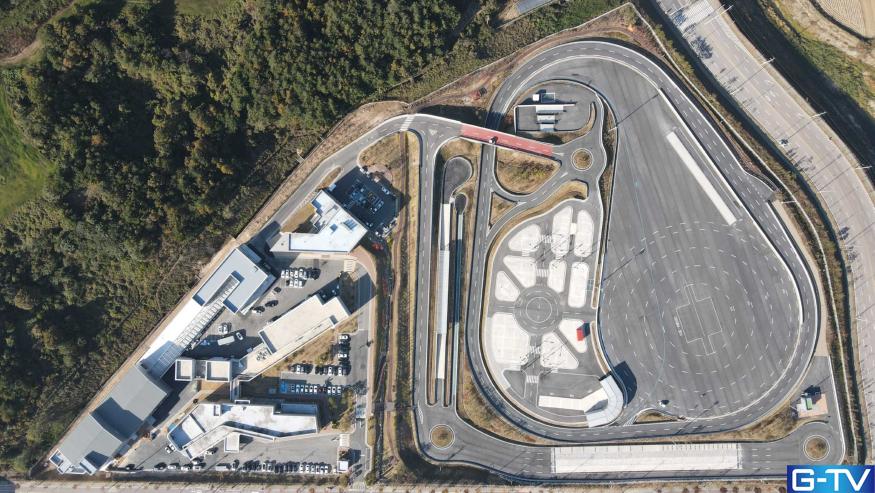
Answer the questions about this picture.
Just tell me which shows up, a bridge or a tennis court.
bridge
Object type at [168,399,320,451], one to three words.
building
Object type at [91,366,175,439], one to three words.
hangar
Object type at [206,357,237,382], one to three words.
building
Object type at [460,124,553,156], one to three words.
bridge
